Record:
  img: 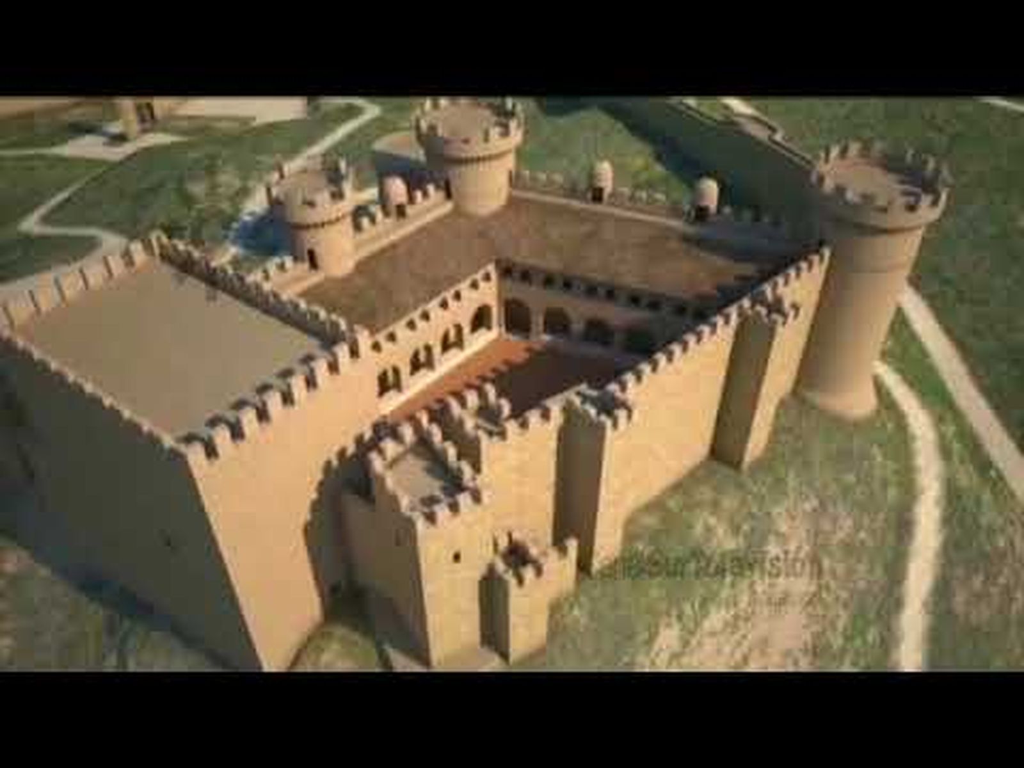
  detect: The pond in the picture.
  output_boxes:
[231,213,289,252]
